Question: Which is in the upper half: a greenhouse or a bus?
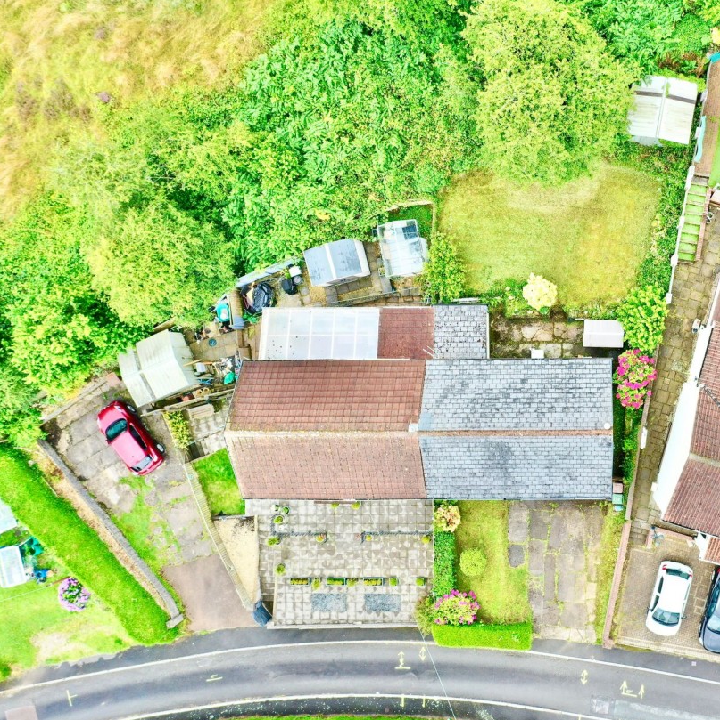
greenhouse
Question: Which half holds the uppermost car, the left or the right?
left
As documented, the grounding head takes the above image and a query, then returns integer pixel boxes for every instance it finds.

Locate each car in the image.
[93,399,160,483]
[646,560,697,643]
[700,572,720,658]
